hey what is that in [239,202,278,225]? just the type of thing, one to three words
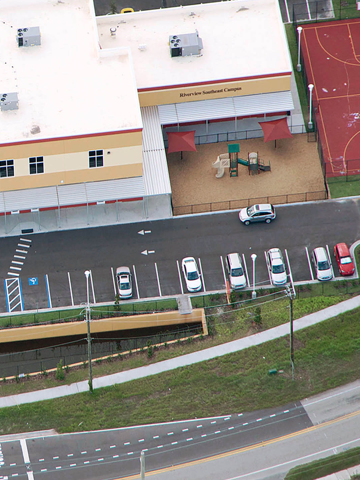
car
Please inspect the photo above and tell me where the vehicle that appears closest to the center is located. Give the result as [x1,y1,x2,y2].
[182,256,201,290]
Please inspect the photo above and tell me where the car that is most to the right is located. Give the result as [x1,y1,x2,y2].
[335,241,355,274]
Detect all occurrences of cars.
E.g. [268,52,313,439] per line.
[312,242,334,281]
[227,249,248,287]
[115,263,134,298]
[239,202,278,225]
[268,245,289,283]
[335,241,355,274]
[182,256,201,290]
